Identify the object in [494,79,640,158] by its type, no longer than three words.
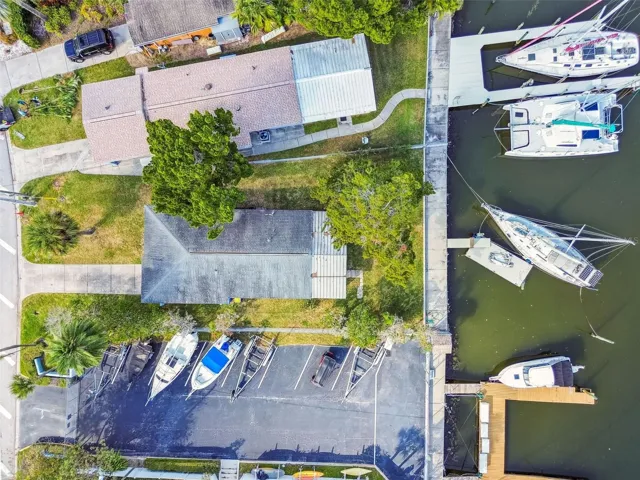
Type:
boat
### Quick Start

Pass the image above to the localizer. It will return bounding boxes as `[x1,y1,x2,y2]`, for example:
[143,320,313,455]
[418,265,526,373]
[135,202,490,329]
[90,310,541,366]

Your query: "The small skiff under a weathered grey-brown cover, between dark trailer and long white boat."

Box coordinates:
[124,339,153,385]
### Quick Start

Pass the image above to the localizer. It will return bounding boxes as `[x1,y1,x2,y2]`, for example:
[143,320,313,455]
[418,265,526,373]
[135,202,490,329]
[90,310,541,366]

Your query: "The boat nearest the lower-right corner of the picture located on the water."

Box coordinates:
[488,356,586,389]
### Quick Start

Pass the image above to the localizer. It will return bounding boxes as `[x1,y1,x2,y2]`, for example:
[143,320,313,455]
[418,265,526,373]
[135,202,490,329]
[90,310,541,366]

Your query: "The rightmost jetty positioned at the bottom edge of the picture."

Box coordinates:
[475,383,594,480]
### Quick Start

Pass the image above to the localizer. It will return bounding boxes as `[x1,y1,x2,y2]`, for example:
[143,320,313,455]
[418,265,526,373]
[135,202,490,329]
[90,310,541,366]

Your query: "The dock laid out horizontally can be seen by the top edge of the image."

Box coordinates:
[449,20,640,108]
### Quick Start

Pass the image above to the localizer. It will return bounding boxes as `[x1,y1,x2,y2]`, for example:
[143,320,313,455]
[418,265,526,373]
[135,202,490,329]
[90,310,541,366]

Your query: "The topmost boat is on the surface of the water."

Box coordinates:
[499,0,640,76]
